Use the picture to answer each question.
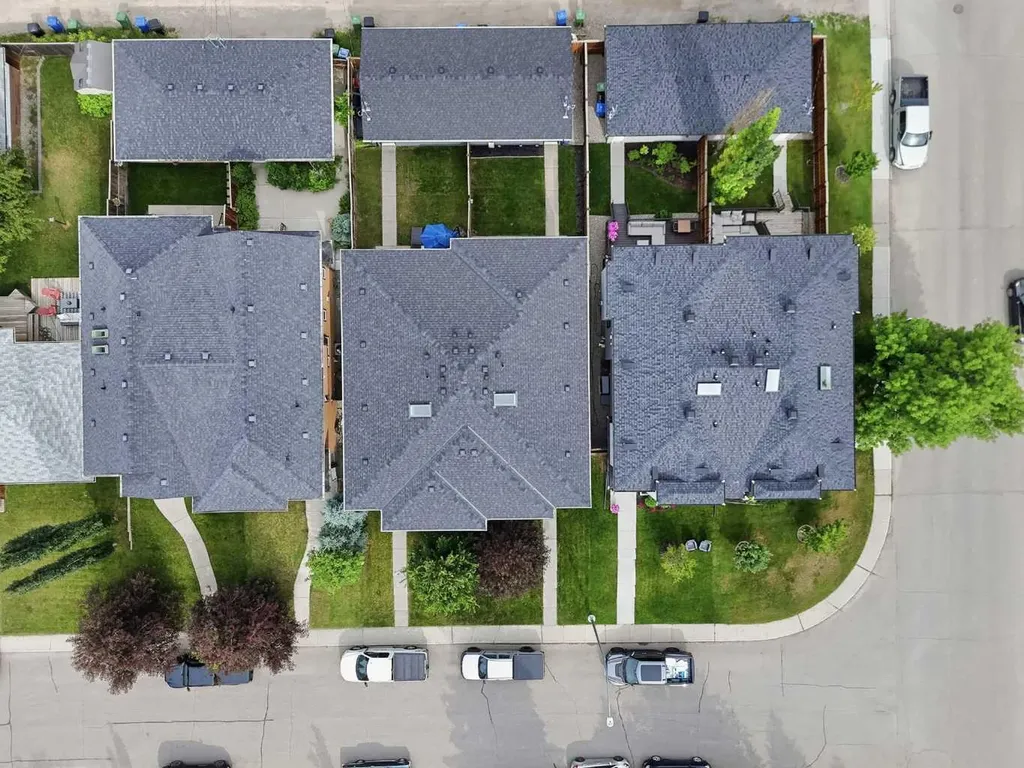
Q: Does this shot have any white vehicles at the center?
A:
No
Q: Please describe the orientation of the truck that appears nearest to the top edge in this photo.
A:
up and down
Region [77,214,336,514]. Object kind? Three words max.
house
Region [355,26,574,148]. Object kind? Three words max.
building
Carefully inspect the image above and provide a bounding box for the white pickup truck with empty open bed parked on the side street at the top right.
[892,76,938,169]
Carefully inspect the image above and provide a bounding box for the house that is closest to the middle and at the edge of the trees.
[339,235,592,532]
